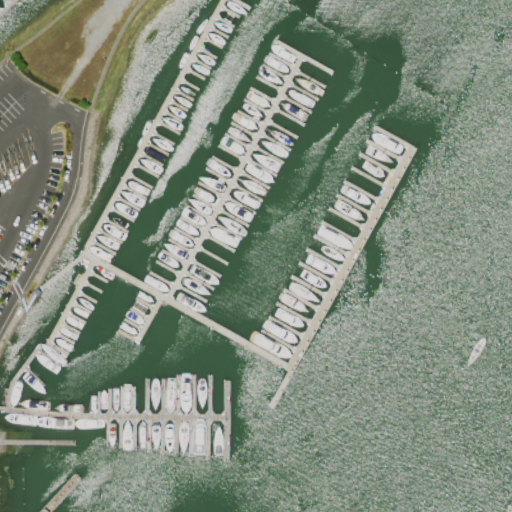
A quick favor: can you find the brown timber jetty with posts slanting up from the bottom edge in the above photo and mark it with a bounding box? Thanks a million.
[40,474,81,512]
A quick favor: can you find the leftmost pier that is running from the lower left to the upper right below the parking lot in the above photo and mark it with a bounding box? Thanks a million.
[4,336,50,406]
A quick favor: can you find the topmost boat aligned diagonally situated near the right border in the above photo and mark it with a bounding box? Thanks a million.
[468,336,489,366]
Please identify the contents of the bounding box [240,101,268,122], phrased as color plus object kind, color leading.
white boat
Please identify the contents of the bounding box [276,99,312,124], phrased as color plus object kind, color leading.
white boat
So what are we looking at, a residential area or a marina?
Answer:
marina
